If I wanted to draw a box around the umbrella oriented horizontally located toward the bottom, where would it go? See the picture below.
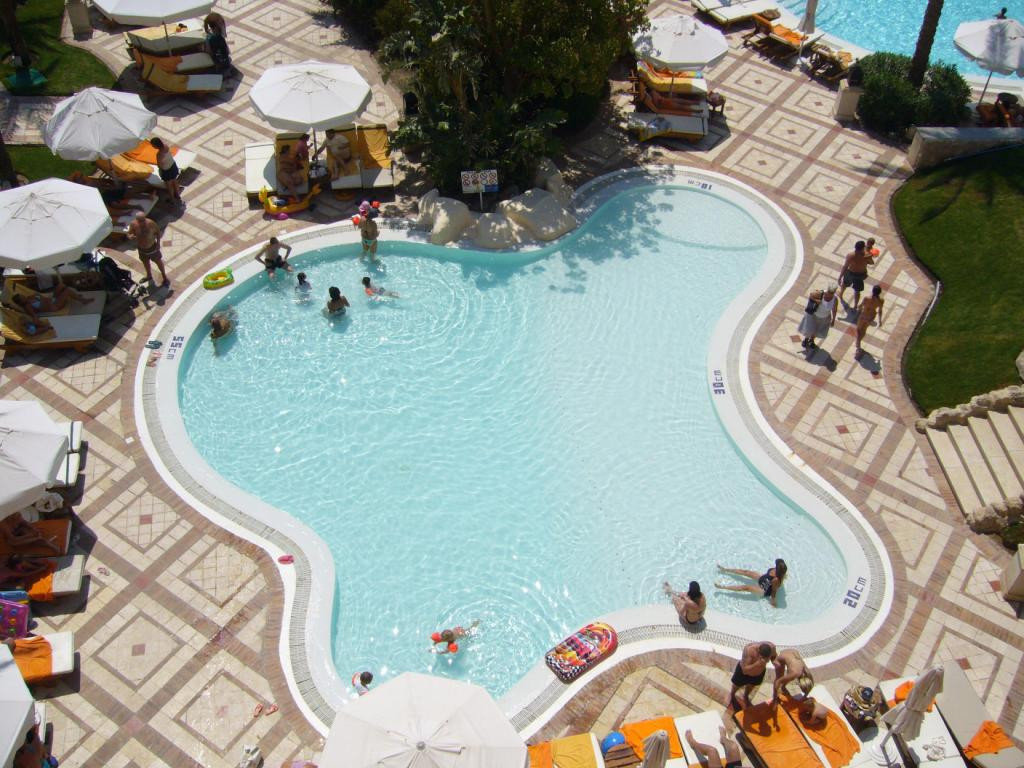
[317,666,527,768]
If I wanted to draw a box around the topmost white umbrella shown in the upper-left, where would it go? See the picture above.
[107,0,219,59]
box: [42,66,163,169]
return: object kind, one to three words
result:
umbrella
